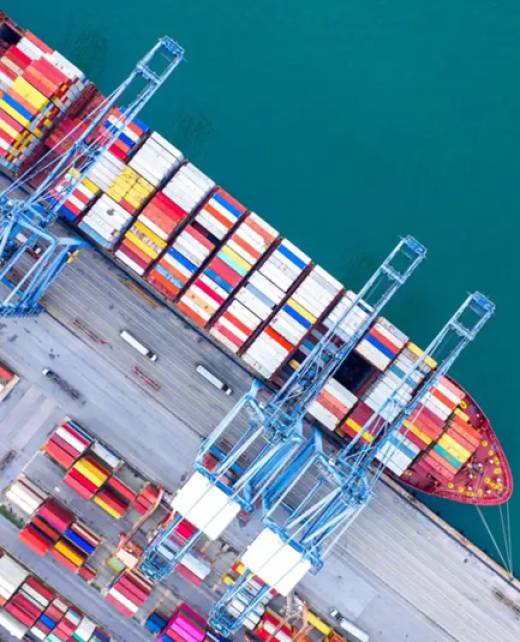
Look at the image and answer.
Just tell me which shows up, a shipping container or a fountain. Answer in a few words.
shipping container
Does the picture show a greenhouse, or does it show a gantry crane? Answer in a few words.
gantry crane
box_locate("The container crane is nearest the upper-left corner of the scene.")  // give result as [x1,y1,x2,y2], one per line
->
[0,31,188,323]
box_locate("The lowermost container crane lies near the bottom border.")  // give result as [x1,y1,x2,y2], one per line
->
[257,577,316,642]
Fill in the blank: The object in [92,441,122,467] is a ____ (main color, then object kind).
white shipping container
